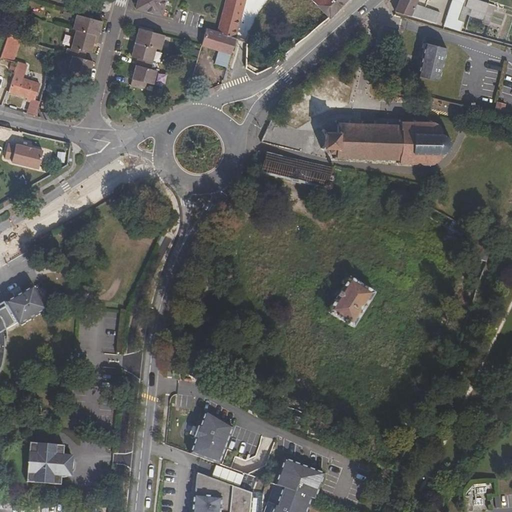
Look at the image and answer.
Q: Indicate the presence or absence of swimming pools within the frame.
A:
No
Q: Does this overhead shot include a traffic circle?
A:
Yes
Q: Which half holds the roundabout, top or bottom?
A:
top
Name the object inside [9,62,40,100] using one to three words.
house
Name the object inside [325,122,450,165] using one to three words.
building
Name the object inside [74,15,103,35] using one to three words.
house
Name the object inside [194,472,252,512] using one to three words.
building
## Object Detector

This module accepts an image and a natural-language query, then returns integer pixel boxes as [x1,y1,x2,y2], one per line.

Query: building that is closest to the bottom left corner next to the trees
[26,442,75,485]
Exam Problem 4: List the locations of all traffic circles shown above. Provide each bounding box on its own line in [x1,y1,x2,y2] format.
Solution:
[152,104,245,196]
